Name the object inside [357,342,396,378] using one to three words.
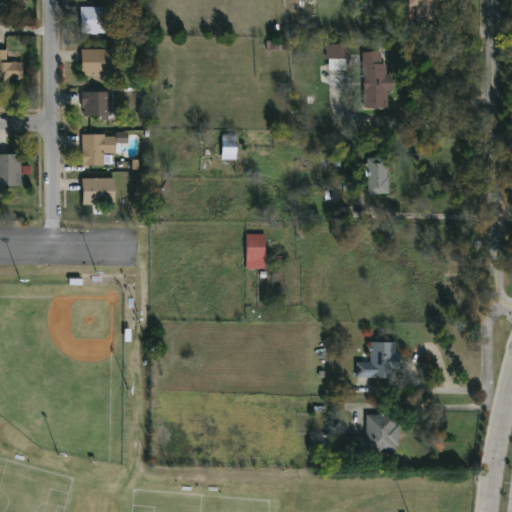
house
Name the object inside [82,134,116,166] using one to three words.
house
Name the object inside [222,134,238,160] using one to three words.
shed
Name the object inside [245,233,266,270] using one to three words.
barn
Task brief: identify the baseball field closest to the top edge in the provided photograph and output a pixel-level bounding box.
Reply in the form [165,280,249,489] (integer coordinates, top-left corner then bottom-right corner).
[0,284,124,464]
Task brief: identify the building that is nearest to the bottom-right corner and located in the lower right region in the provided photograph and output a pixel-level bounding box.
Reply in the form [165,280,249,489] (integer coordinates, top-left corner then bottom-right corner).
[366,415,400,453]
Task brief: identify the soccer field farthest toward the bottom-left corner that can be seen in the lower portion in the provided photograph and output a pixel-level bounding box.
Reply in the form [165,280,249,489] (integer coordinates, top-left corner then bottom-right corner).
[0,458,73,512]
